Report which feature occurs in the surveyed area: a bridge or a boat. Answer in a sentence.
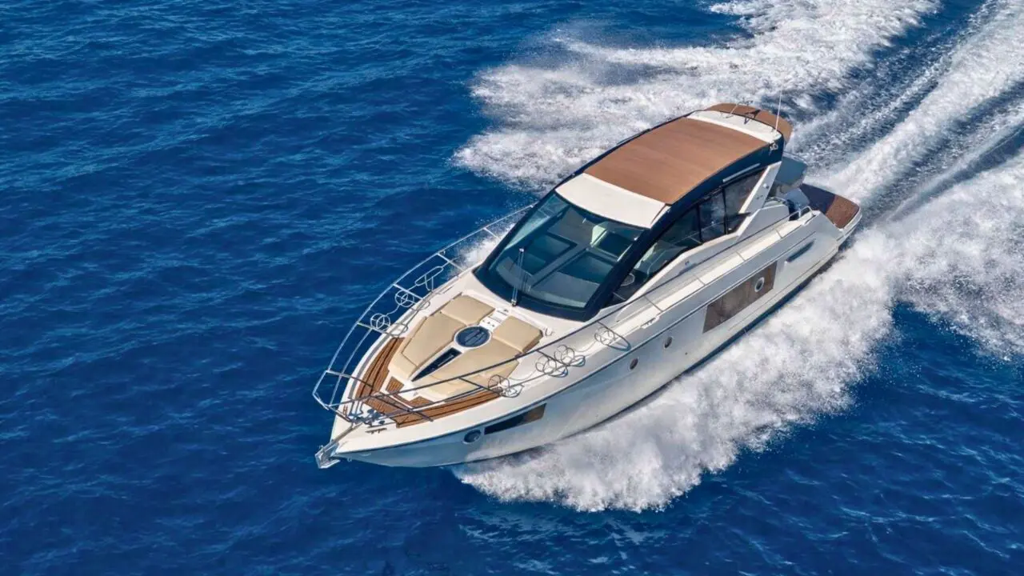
Of the two, only a boat appears.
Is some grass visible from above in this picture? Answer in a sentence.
No, the picture contains no grass.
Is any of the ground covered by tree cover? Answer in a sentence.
No, there is no tree cover in the image.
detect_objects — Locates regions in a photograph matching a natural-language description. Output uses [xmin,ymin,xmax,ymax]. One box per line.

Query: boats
[304,75,865,470]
